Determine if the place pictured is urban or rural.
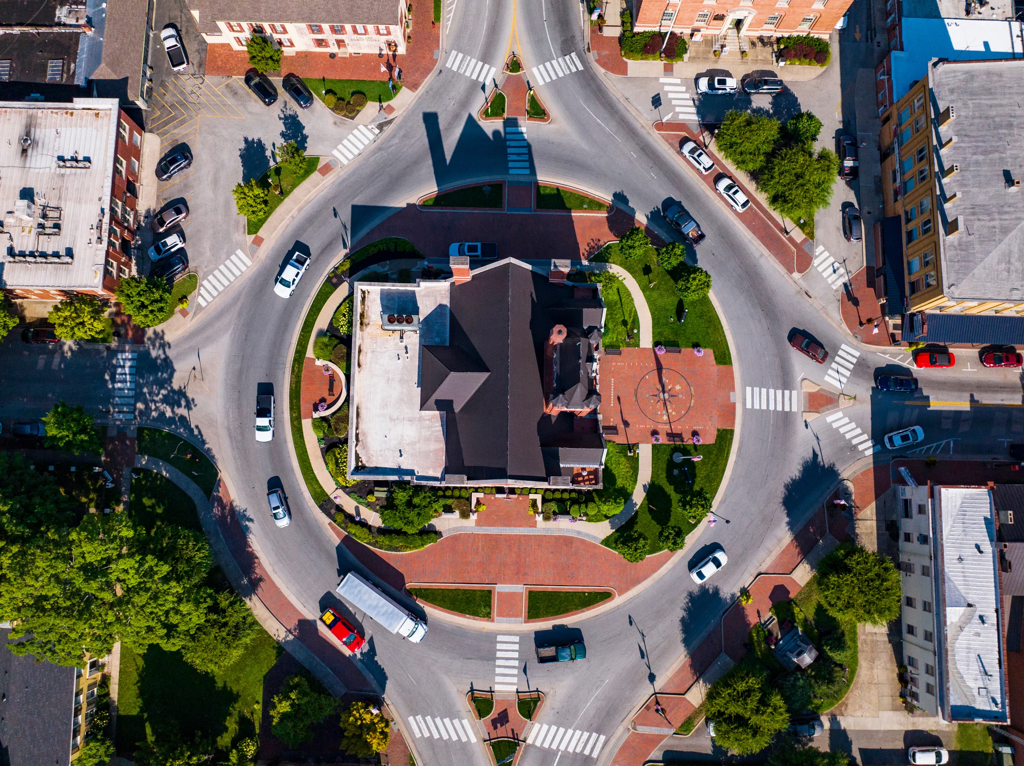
urban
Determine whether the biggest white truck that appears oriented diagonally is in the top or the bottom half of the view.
bottom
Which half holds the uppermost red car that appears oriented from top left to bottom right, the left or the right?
right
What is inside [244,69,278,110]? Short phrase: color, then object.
black car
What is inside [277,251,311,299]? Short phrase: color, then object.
white truck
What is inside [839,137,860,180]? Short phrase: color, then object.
black truck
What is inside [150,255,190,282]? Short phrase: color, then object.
black car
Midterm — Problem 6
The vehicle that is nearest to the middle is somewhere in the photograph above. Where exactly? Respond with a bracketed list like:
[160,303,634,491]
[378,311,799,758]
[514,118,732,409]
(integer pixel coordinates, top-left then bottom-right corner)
[450,240,497,260]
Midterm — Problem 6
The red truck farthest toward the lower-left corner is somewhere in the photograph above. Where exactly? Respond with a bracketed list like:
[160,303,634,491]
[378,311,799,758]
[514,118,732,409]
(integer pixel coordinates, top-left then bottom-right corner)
[319,608,363,650]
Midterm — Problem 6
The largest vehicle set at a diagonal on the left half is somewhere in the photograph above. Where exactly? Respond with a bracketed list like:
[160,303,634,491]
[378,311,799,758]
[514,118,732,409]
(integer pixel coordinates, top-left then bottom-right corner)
[336,570,429,639]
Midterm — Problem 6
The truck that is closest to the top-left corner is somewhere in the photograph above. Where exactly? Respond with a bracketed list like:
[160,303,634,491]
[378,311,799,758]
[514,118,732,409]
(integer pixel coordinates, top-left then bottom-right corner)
[162,28,189,73]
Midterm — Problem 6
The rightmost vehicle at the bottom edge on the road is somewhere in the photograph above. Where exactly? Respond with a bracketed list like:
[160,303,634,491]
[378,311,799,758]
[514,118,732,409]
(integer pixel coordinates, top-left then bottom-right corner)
[906,745,947,766]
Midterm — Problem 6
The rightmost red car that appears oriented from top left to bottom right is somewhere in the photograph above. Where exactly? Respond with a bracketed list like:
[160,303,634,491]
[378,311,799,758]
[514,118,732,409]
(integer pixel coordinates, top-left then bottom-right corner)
[788,334,829,365]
